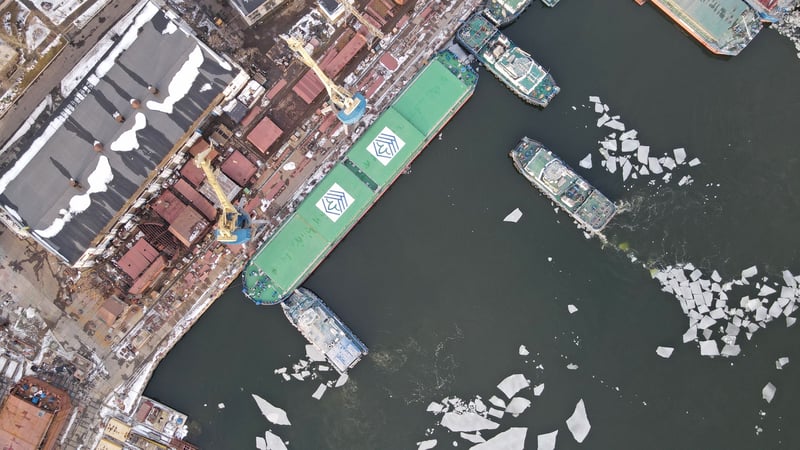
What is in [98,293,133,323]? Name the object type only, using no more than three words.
shed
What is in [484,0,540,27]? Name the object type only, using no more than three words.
boat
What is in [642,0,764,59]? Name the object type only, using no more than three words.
ship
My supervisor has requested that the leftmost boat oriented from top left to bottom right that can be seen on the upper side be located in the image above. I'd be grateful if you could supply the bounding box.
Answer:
[455,11,559,106]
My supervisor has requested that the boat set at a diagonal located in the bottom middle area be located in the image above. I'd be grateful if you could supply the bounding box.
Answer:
[282,286,367,371]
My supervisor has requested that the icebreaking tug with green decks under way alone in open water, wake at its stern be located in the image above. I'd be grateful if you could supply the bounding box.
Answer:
[509,138,614,229]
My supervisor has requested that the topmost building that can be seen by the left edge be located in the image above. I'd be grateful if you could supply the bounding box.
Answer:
[0,0,250,264]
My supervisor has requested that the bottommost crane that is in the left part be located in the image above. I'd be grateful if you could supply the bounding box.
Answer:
[195,148,266,251]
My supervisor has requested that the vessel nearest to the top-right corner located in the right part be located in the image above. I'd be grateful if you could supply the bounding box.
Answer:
[743,0,791,25]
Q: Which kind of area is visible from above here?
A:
port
